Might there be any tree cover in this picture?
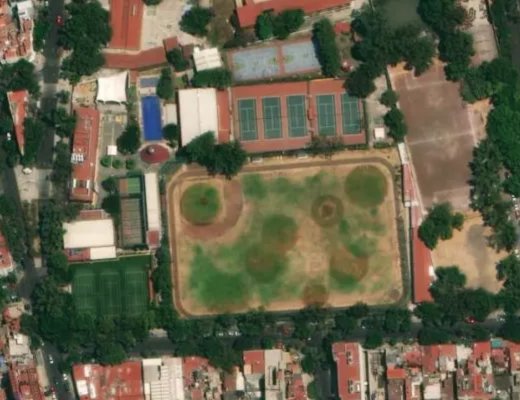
Yes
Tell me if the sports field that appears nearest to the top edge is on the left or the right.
right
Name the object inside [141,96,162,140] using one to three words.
swimming pool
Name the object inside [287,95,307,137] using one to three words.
tennis court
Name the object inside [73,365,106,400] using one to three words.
house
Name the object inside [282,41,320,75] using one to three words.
basketball court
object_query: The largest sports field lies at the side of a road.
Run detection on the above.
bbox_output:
[164,148,408,322]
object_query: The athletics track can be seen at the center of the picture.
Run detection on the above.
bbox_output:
[170,157,402,319]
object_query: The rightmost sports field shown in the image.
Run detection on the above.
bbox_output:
[388,51,490,214]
